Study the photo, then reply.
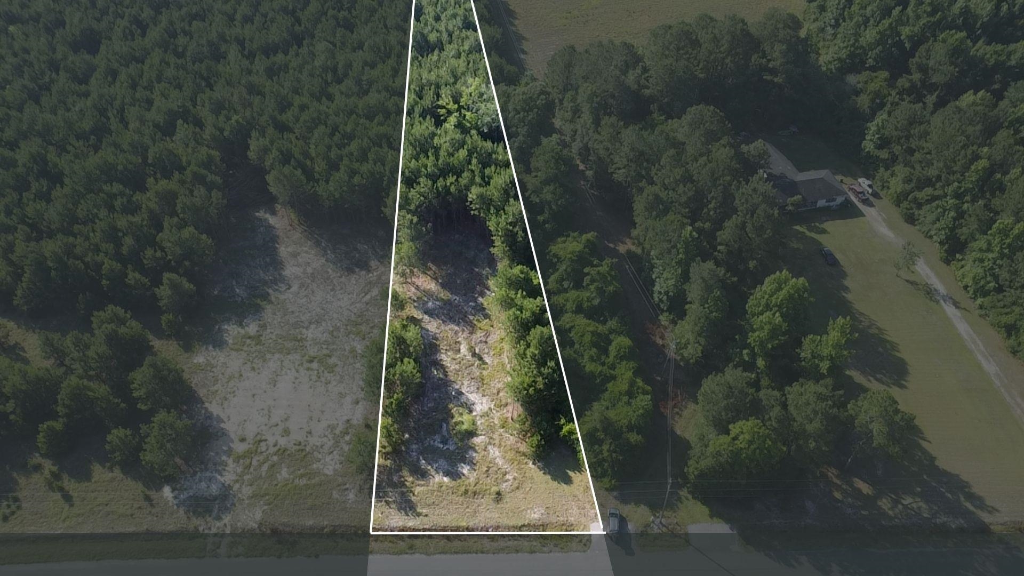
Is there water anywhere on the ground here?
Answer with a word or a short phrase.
No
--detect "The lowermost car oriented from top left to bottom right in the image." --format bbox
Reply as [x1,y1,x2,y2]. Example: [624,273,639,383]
[818,249,839,264]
